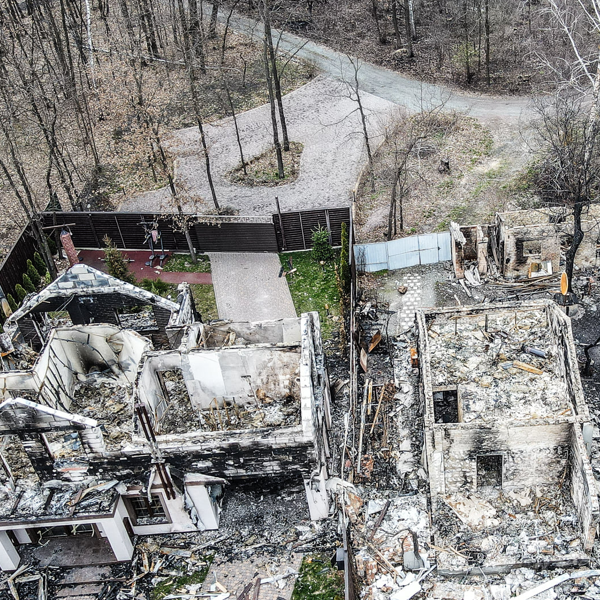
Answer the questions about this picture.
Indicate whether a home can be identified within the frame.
Yes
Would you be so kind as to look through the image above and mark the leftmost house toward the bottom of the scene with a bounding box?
[0,255,347,594]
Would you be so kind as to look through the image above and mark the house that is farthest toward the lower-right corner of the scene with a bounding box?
[415,300,598,570]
